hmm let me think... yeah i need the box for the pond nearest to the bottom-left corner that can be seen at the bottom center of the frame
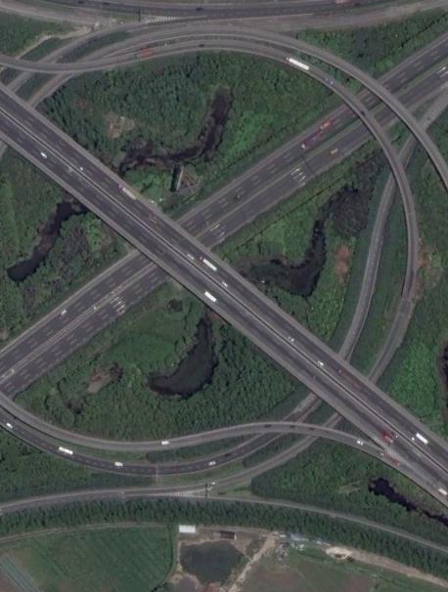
[181,541,241,583]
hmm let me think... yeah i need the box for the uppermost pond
[120,88,232,171]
